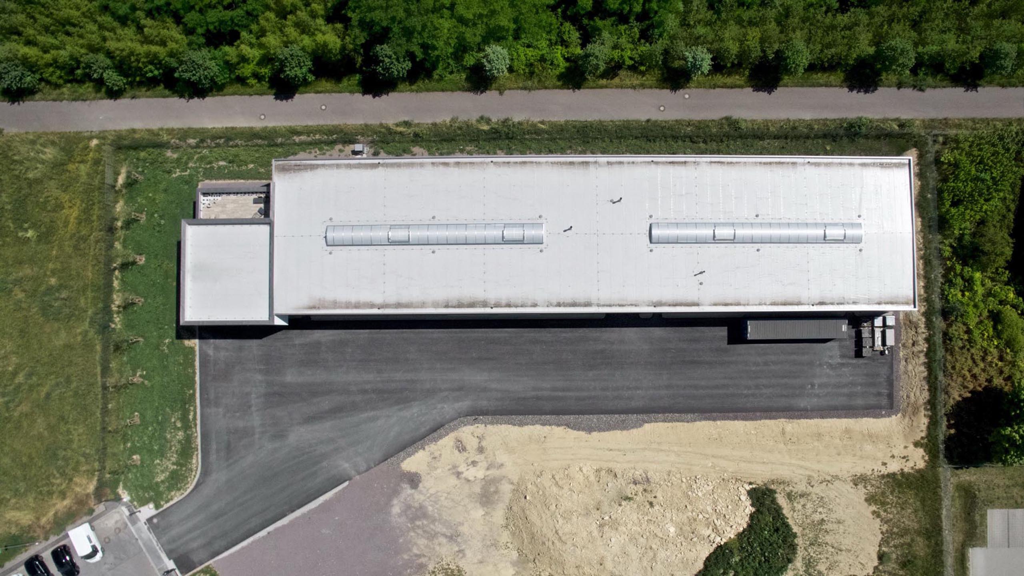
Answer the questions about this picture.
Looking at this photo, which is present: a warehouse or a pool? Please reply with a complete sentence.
Looking from above, you can make out a warehouse.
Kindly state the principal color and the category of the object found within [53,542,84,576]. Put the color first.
black car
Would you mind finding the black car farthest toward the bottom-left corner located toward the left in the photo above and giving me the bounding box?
[26,553,54,576]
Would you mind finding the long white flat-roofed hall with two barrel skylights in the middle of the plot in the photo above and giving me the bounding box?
[273,157,917,313]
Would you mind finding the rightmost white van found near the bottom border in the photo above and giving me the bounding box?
[67,521,104,562]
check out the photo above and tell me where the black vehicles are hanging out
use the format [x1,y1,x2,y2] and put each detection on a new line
[26,553,54,576]
[53,542,84,576]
